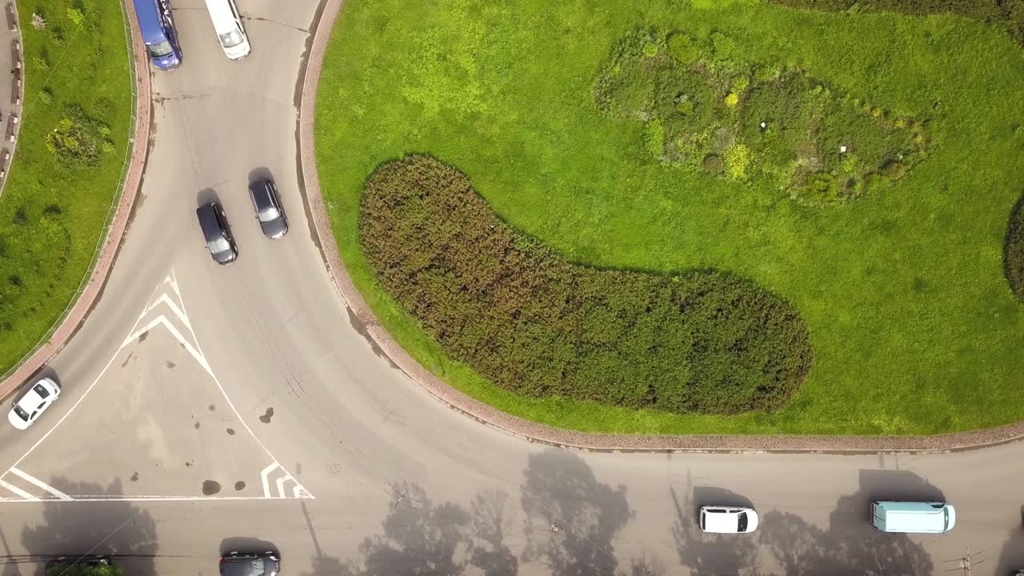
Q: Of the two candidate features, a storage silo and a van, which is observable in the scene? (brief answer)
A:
van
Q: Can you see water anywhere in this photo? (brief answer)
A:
No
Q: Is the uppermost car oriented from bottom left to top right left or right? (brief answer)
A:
left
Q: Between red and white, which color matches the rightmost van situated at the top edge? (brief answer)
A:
white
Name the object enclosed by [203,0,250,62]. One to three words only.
van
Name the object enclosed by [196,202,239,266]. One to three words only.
car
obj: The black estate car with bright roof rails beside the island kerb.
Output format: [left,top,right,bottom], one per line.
[251,180,289,241]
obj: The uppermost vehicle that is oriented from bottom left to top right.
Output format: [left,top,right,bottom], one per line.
[9,377,61,430]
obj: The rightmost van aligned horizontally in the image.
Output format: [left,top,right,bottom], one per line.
[869,499,954,534]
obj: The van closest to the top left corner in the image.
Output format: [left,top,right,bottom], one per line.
[130,0,182,72]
